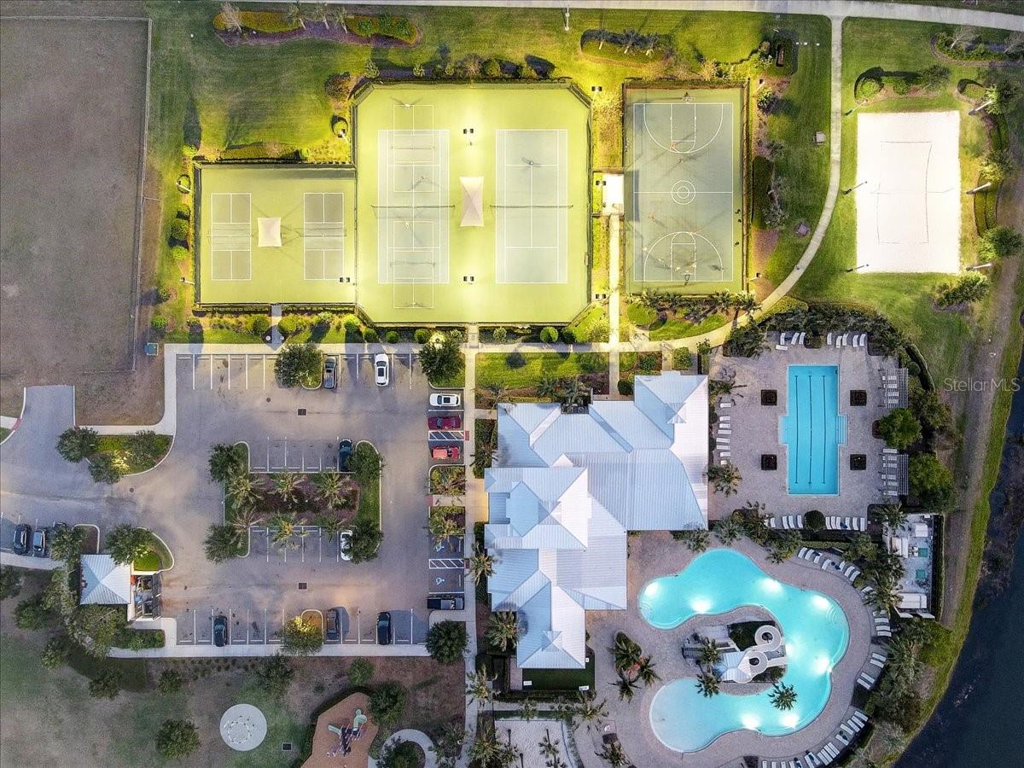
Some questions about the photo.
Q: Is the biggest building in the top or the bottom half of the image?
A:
bottom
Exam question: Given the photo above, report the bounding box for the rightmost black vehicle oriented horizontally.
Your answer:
[427,594,464,611]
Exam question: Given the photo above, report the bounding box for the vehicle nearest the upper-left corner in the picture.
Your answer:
[323,356,338,388]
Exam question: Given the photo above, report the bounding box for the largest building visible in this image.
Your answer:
[485,375,708,669]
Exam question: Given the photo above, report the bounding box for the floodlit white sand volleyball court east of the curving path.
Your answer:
[856,111,960,273]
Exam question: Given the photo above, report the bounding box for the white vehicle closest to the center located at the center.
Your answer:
[429,392,460,407]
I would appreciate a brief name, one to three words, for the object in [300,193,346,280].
sports court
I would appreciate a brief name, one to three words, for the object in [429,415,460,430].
car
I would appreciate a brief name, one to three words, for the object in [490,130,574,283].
tennis court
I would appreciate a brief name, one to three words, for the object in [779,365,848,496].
swimming pool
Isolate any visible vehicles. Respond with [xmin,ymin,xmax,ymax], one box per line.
[429,415,460,430]
[429,392,460,407]
[376,612,391,644]
[338,440,353,471]
[32,526,51,559]
[326,607,341,639]
[339,529,353,561]
[323,356,338,388]
[374,354,388,385]
[15,522,33,555]
[427,594,464,611]
[212,614,229,646]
